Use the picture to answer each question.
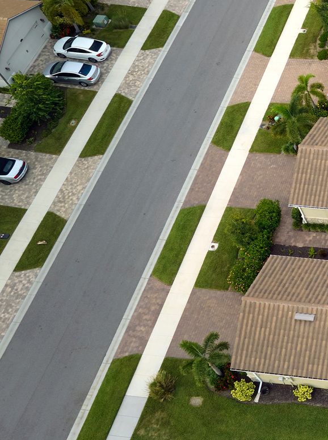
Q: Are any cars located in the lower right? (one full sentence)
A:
No, no car can be made out in the lower right.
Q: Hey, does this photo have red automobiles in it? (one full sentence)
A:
No, there isn't any red automobile down there.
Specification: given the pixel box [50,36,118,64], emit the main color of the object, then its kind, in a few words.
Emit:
white car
